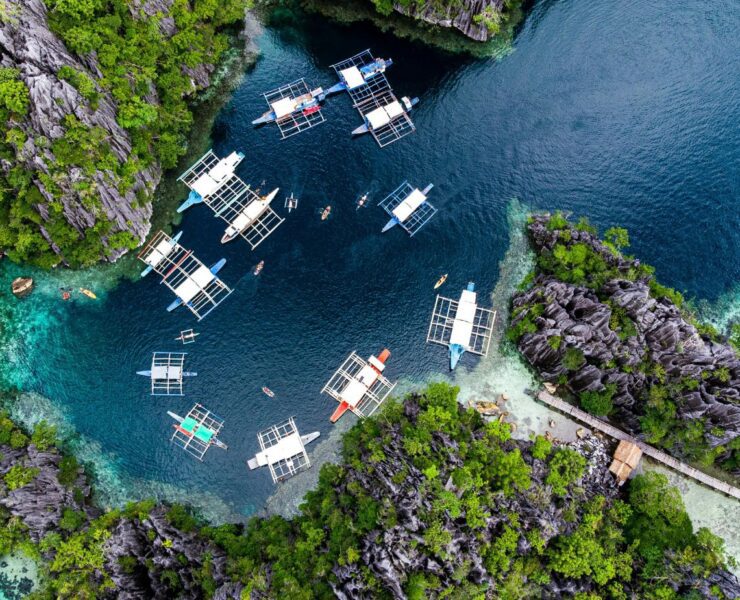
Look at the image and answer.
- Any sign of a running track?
No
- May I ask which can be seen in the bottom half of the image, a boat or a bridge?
boat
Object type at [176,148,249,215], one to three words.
boat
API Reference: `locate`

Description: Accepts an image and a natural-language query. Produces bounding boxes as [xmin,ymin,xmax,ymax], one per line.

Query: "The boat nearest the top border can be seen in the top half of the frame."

[324,48,394,106]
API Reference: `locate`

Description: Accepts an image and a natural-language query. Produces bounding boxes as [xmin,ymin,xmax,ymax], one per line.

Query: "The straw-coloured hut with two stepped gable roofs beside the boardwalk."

[603,438,641,479]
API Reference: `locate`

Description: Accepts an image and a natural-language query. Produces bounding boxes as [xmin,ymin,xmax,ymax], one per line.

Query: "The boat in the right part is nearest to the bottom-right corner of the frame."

[426,281,497,372]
